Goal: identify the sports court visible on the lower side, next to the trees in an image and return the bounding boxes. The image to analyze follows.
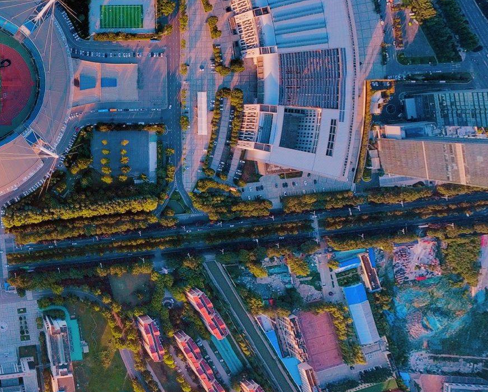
[299,313,343,371]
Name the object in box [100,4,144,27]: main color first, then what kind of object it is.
green soccer field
